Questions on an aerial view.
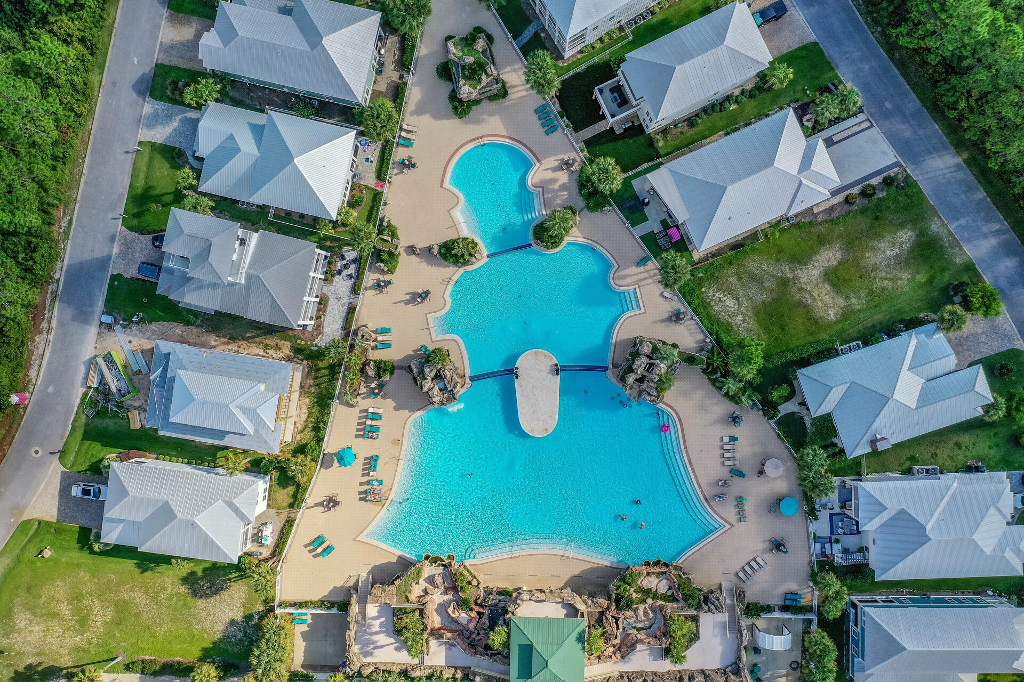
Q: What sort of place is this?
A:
residential area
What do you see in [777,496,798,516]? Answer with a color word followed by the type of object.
blue umbrella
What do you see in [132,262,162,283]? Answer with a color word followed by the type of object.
blue car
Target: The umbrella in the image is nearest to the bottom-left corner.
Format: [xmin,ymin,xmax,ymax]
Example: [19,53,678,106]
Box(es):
[336,446,357,467]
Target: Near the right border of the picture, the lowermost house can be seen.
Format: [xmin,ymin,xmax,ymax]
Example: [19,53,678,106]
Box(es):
[846,595,1024,682]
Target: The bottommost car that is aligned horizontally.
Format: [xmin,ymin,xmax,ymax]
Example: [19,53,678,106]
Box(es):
[66,483,108,502]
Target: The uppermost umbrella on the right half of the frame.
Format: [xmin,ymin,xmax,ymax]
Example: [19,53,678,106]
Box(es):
[762,457,783,478]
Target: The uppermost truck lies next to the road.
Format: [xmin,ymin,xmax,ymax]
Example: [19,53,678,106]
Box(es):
[751,0,795,26]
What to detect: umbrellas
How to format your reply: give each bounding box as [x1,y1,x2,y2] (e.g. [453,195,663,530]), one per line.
[336,446,357,467]
[762,457,783,478]
[777,496,798,516]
